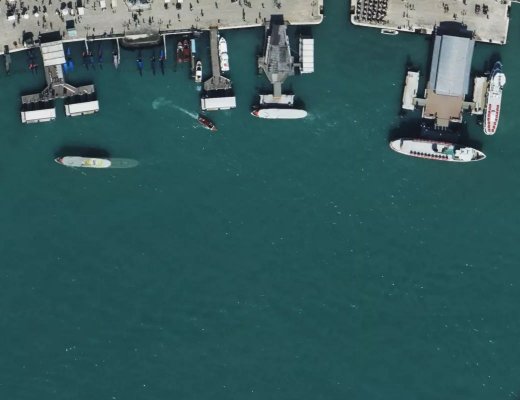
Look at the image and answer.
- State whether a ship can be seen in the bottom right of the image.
No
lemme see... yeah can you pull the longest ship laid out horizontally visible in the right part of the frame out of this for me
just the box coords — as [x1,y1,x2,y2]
[388,138,485,162]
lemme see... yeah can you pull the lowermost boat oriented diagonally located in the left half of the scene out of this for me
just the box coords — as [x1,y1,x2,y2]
[198,117,217,130]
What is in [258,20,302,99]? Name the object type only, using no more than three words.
pier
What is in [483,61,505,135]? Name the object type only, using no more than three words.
ship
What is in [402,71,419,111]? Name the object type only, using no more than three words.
pier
